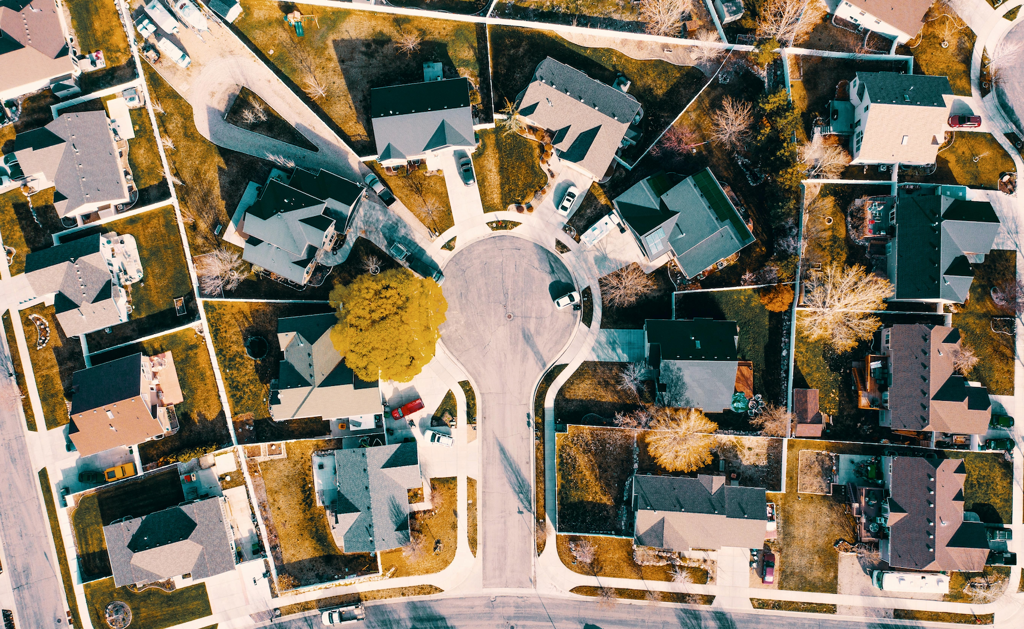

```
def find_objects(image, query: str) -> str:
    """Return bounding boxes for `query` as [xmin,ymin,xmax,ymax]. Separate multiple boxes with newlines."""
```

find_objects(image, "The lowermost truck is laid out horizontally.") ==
[321,605,367,626]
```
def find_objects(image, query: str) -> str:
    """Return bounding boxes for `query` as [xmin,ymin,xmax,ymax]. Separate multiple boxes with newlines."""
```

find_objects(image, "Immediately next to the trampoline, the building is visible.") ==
[268,311,384,421]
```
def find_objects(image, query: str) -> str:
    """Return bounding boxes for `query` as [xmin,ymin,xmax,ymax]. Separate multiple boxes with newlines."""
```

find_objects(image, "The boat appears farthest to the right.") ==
[171,0,215,37]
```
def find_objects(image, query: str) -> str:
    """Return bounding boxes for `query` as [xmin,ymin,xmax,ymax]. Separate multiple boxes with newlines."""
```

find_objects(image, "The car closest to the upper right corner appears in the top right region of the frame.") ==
[949,115,982,129]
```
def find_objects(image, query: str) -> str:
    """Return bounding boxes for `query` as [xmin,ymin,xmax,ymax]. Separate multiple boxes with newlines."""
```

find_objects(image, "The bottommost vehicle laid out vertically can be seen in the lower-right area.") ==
[761,552,777,585]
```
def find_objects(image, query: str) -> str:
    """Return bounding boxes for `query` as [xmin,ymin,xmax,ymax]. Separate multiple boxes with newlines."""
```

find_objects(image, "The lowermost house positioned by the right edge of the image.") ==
[880,456,990,573]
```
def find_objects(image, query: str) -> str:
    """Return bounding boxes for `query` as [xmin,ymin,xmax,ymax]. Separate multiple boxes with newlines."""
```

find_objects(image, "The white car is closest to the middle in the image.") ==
[554,289,581,310]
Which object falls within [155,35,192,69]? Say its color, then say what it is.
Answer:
white van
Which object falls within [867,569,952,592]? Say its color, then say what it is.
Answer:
white camper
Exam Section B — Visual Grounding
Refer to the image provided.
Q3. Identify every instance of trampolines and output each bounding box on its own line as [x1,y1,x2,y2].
[241,334,271,361]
